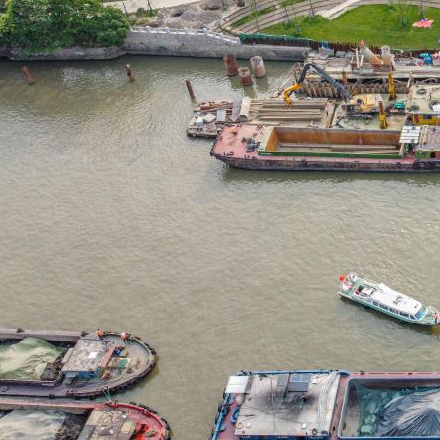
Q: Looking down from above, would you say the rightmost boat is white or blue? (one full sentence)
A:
The rightmost boat looks white in the image.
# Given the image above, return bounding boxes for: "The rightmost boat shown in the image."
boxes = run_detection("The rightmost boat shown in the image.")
[337,272,440,326]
